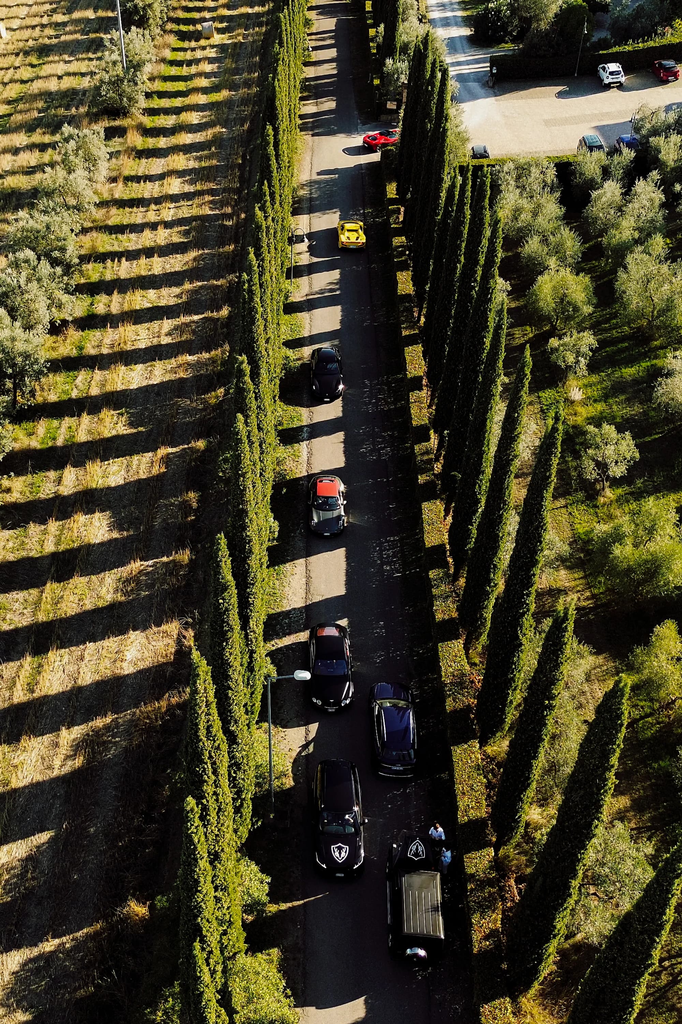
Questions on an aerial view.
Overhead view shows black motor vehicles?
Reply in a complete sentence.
Yes, a black motor vehicle appears in the view.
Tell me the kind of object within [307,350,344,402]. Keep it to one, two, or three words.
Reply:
car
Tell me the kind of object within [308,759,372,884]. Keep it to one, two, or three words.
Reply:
car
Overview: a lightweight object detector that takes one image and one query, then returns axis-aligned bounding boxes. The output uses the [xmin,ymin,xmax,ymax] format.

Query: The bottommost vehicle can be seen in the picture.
[383,835,446,965]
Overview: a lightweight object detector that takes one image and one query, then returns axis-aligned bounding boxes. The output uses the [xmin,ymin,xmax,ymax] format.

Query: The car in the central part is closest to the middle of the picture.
[307,474,346,537]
